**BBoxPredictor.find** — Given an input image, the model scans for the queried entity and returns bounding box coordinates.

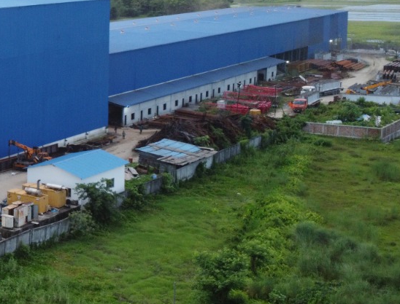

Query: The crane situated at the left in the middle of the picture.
[9,140,52,166]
